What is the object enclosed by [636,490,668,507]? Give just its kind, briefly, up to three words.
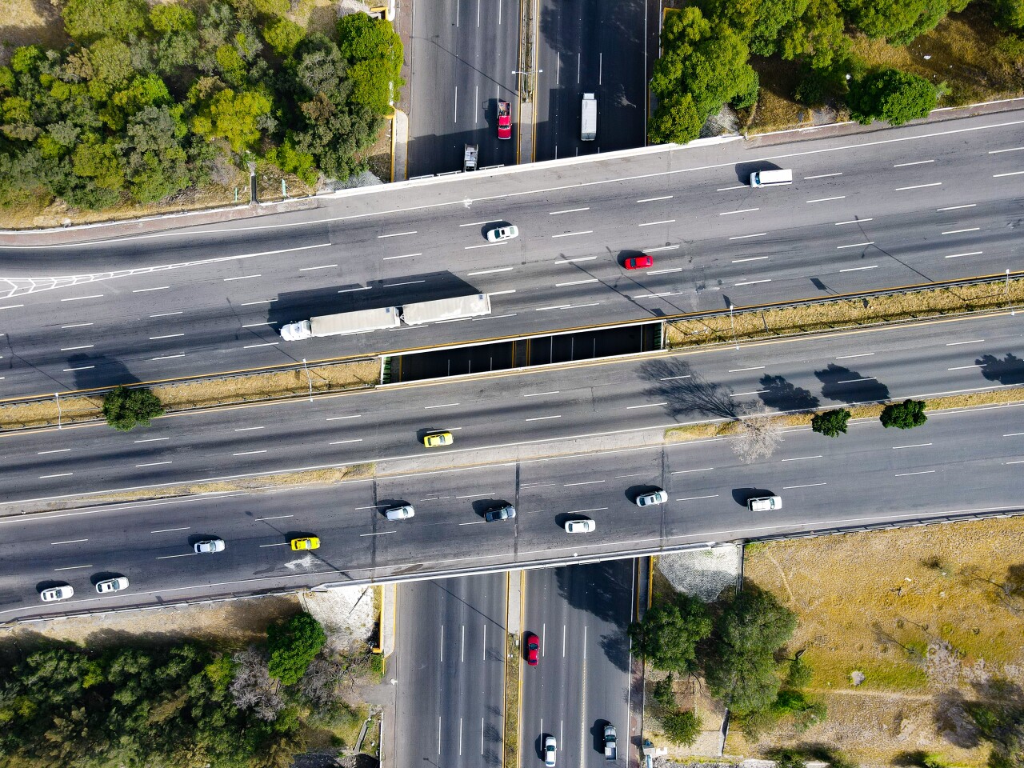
car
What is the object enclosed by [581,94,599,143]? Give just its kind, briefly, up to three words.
vehicle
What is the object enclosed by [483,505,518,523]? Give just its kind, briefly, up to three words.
vehicle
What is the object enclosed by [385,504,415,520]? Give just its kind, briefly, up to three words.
car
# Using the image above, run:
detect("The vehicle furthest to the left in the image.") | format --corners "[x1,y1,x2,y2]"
[40,584,75,601]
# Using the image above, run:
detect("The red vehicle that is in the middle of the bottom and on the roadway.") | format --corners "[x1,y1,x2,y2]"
[526,634,540,665]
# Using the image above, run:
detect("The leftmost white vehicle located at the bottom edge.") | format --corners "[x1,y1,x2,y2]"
[543,735,557,767]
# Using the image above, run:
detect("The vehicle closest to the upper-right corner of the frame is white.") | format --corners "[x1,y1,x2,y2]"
[750,167,795,189]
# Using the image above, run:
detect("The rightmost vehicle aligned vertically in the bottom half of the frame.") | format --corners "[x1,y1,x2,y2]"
[603,723,619,762]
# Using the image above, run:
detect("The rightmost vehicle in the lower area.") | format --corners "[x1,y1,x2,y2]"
[747,496,783,512]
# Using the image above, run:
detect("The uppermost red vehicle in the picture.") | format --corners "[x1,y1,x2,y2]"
[496,102,512,139]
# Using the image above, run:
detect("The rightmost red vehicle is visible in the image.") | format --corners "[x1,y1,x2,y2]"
[624,255,654,270]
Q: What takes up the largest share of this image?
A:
paved ground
